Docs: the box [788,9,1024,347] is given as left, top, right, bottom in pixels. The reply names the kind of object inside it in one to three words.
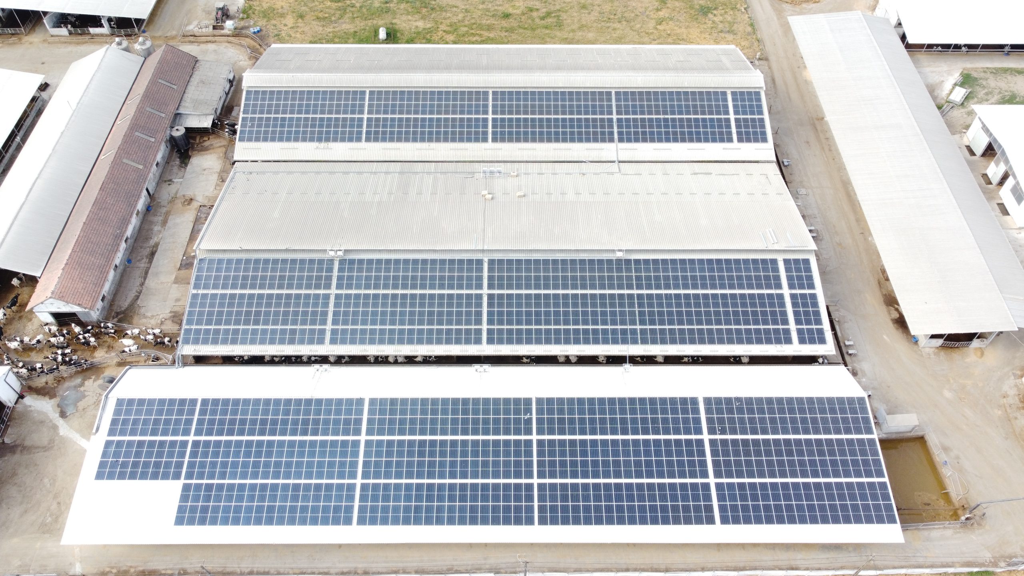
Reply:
barn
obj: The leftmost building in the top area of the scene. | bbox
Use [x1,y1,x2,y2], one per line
[0,68,52,182]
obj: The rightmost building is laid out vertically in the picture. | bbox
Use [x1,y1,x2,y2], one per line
[965,105,1024,229]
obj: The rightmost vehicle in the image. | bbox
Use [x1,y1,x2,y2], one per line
[214,3,230,25]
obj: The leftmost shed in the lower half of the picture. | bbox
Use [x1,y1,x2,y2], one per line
[0,365,28,414]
